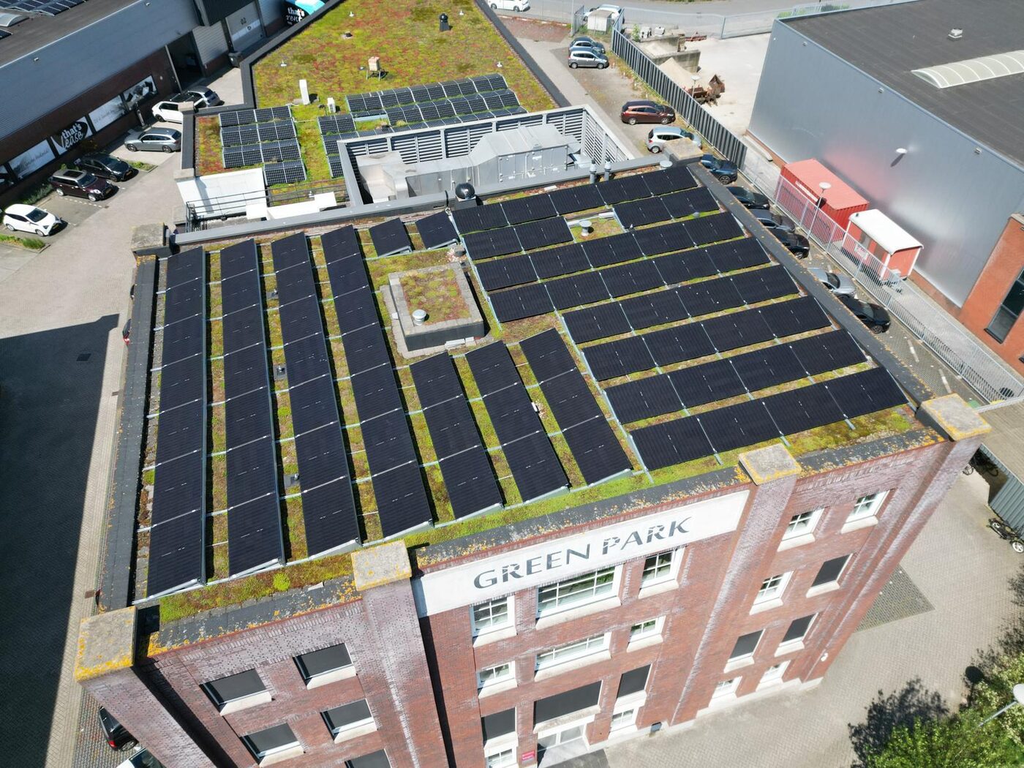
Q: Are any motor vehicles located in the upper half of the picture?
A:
Yes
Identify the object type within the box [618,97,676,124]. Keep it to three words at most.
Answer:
car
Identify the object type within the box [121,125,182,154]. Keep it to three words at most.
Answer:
car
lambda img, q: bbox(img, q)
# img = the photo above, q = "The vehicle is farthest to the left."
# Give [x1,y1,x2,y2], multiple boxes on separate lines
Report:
[0,201,62,236]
